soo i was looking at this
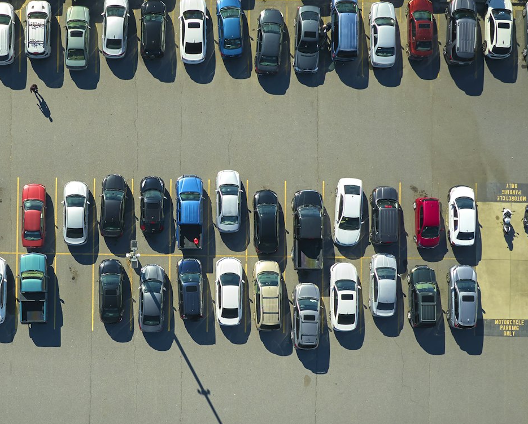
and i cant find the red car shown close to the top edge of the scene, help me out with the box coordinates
[406,0,437,61]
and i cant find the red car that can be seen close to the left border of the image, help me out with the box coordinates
[19,184,47,248]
